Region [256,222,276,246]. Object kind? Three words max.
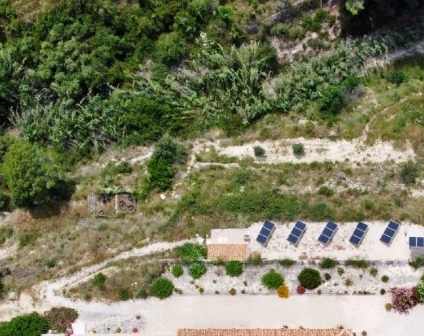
solar array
